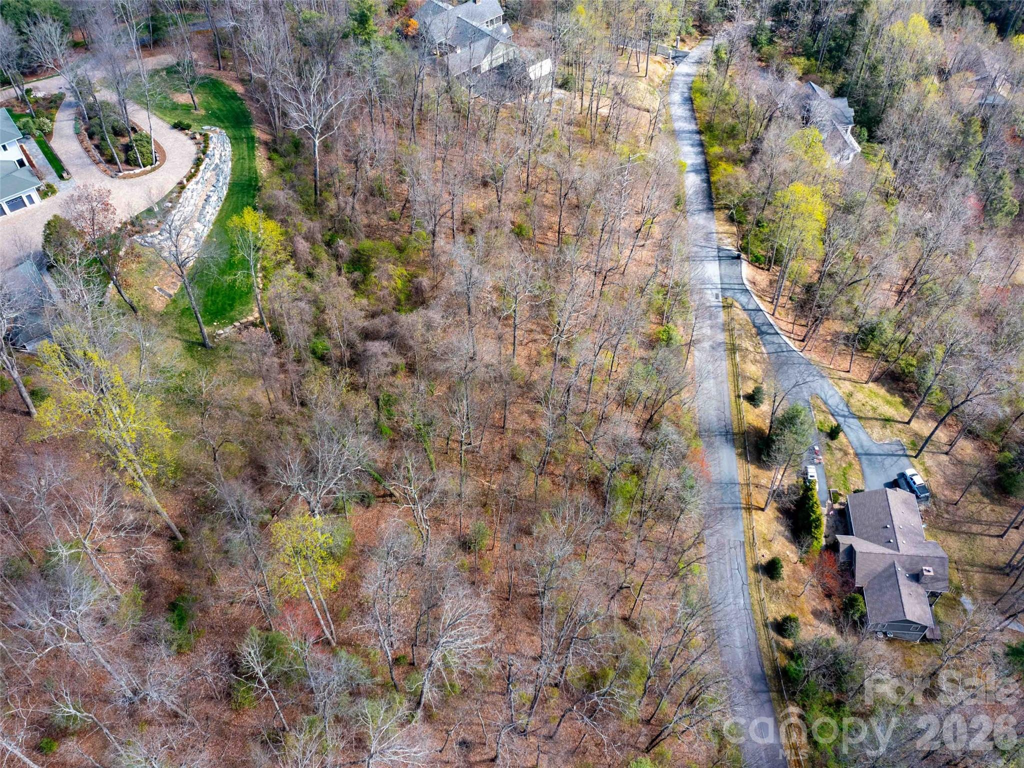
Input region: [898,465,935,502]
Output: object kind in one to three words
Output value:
truck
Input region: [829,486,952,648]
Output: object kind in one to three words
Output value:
house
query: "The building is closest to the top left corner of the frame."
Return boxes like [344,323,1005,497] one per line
[0,123,44,216]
